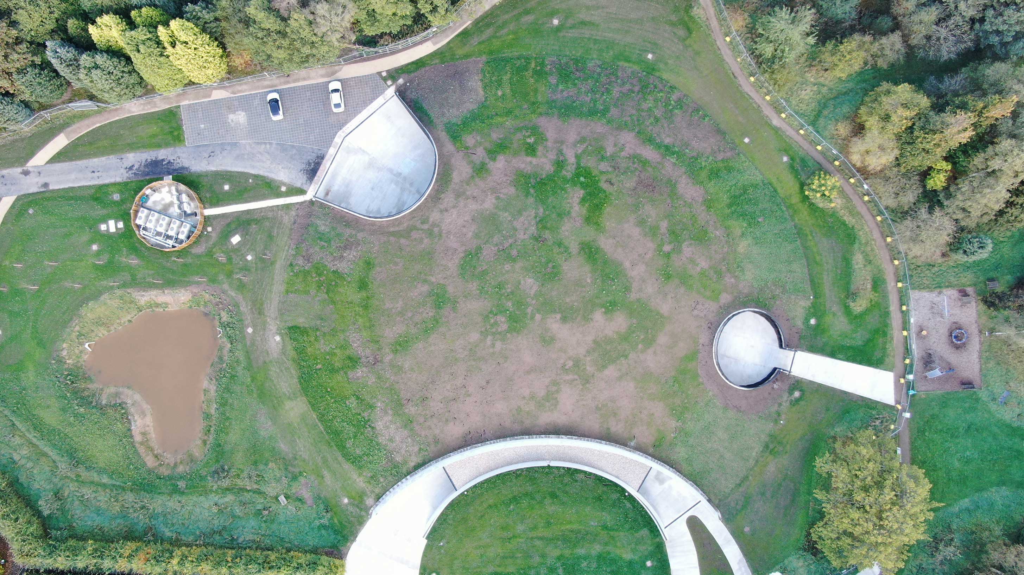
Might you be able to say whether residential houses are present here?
No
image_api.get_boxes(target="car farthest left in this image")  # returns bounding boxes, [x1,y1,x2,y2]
[265,91,283,120]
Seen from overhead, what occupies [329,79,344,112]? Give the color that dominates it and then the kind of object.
white car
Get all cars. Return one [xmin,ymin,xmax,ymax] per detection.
[265,91,283,120]
[329,79,344,112]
